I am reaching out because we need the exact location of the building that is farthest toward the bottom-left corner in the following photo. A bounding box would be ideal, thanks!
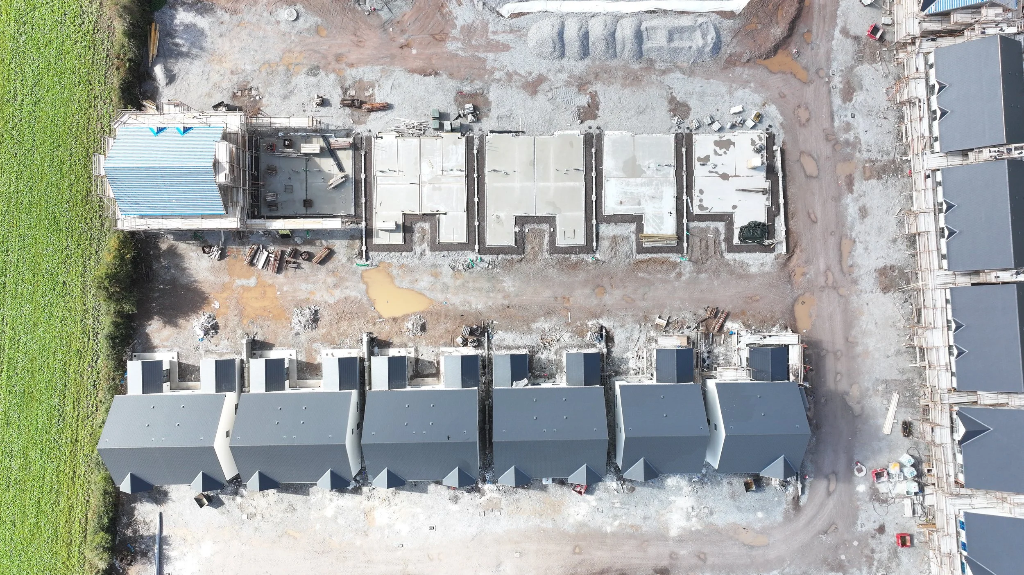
[95,358,241,494]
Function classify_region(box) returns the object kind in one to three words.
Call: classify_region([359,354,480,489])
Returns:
house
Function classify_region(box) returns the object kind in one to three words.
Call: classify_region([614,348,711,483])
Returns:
house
